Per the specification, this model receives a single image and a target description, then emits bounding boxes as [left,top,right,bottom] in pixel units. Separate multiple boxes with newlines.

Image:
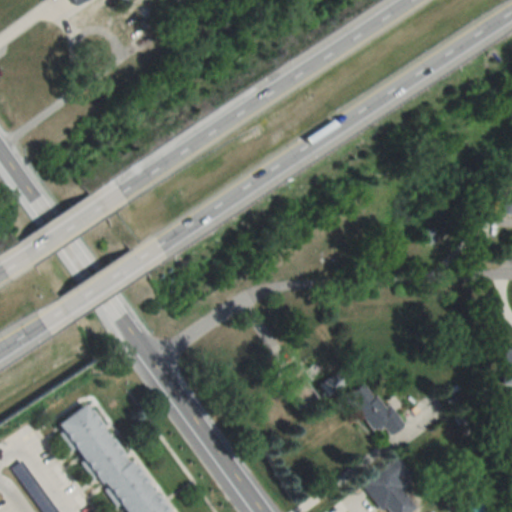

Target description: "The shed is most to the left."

[10,460,57,512]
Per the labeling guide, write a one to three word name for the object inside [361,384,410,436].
house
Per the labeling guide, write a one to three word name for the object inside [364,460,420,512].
house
